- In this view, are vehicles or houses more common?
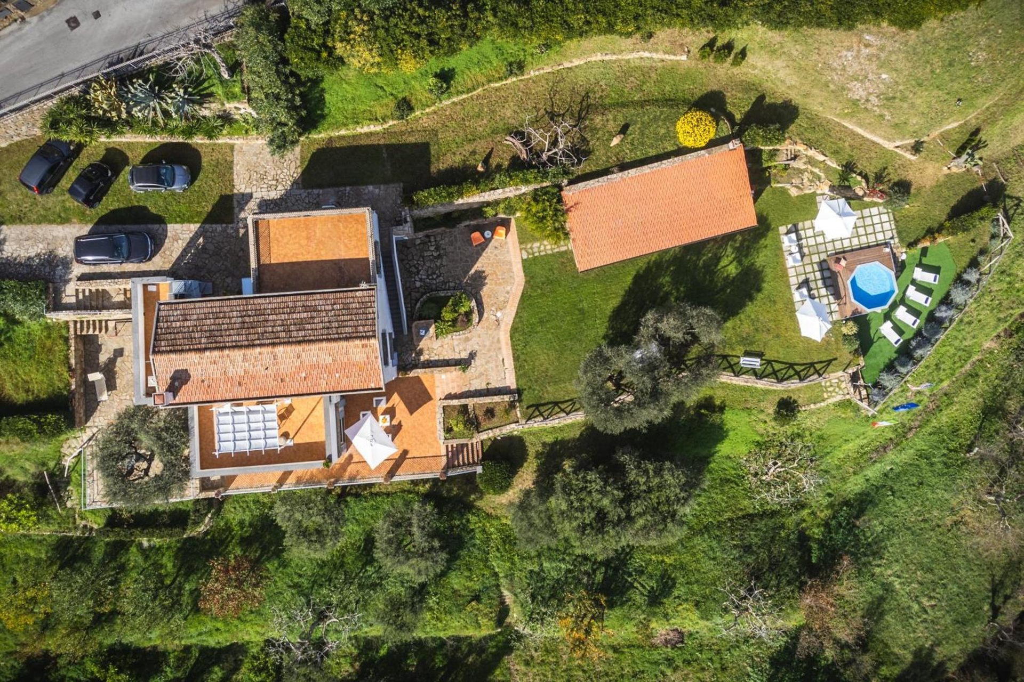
vehicles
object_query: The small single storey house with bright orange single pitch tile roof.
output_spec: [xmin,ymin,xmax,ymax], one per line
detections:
[558,139,758,273]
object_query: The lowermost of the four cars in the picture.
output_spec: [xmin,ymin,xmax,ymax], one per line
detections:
[70,229,157,266]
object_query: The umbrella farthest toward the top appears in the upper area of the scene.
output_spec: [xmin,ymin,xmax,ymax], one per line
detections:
[813,196,856,241]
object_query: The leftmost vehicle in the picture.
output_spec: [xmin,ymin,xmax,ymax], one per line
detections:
[17,137,81,198]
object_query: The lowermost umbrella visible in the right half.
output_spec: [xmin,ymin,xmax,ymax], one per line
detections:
[794,300,831,339]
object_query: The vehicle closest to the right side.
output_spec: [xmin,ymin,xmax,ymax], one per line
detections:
[125,160,195,193]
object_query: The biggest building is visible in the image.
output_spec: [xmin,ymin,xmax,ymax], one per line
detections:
[128,203,403,475]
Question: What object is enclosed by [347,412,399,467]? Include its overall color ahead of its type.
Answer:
white umbrella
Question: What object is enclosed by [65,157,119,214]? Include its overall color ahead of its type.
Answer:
black car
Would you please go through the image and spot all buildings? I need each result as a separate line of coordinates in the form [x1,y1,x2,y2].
[128,203,403,475]
[558,139,758,273]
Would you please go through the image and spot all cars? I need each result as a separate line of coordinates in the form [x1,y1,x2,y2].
[65,157,119,214]
[70,229,157,266]
[17,137,81,198]
[125,160,195,193]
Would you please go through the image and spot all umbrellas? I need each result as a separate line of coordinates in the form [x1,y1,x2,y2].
[347,412,399,467]
[813,196,856,241]
[794,300,831,339]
